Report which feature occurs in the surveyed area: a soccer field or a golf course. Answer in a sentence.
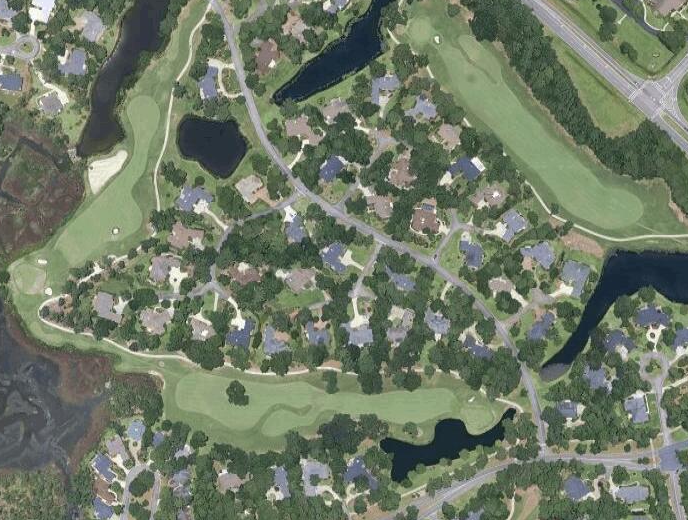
Of the two, only a golf course appears.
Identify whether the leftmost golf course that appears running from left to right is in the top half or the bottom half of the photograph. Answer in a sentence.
You can find the leftmost golf course that appears running from left to right in the bottom half.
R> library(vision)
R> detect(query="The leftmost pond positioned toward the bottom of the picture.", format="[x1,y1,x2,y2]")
[381,409,517,482]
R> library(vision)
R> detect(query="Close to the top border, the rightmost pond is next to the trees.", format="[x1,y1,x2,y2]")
[274,0,394,105]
